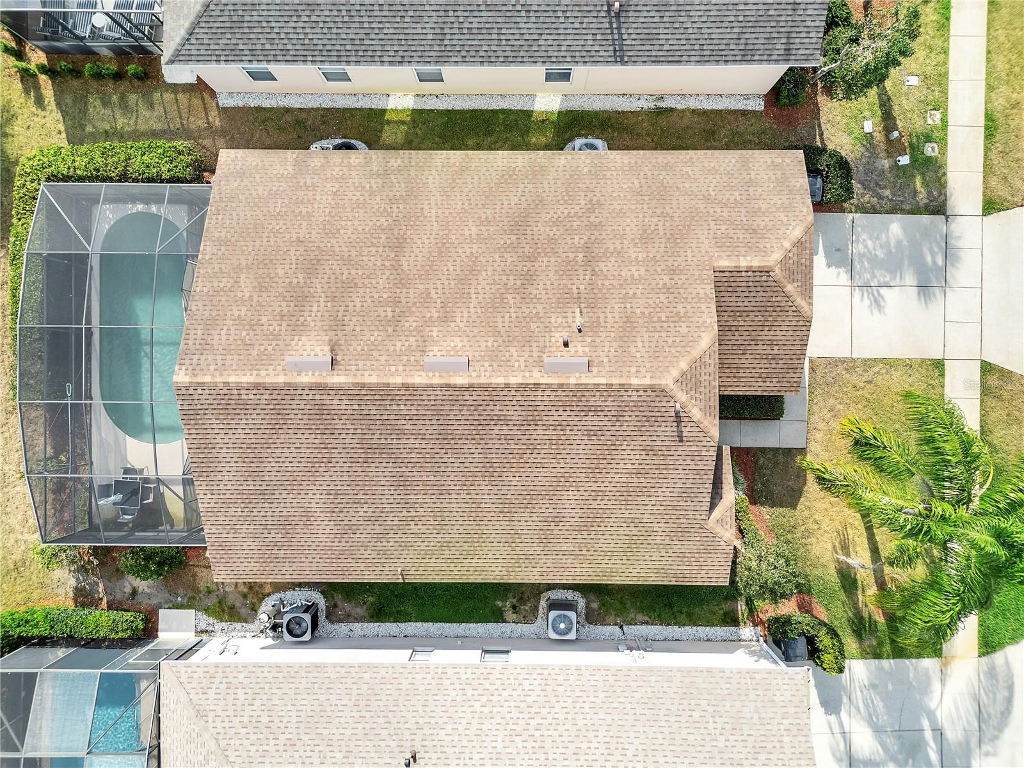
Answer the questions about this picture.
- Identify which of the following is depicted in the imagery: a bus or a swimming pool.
swimming pool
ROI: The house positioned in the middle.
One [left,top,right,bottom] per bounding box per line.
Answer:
[174,150,817,584]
